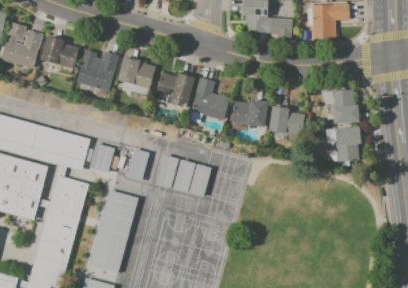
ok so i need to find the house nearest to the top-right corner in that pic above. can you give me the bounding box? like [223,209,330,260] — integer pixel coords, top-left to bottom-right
[312,4,350,38]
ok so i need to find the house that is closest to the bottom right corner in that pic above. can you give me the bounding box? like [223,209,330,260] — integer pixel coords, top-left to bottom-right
[328,127,360,161]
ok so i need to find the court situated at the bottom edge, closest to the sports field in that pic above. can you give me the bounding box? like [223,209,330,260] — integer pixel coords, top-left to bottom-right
[188,220,229,288]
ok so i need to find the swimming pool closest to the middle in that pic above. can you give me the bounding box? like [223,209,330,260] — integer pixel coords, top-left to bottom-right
[191,112,226,136]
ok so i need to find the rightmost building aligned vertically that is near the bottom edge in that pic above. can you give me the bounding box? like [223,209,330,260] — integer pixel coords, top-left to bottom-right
[87,192,138,274]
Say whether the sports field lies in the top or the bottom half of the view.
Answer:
bottom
